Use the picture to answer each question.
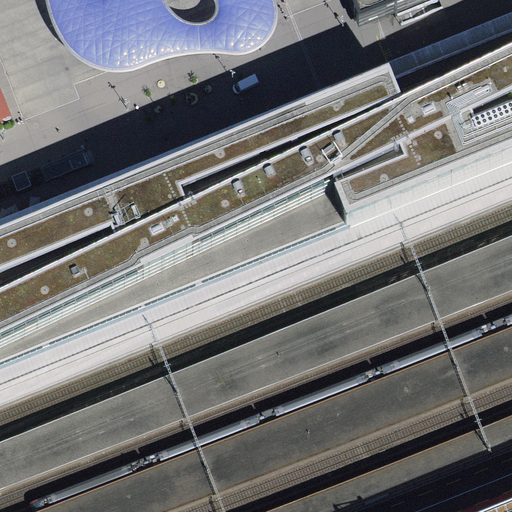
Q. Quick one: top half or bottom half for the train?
bottom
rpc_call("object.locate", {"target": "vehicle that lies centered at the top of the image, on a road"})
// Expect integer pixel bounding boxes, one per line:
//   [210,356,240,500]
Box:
[233,74,259,94]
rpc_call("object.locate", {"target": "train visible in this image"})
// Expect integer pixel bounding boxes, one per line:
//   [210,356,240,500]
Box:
[30,310,512,512]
